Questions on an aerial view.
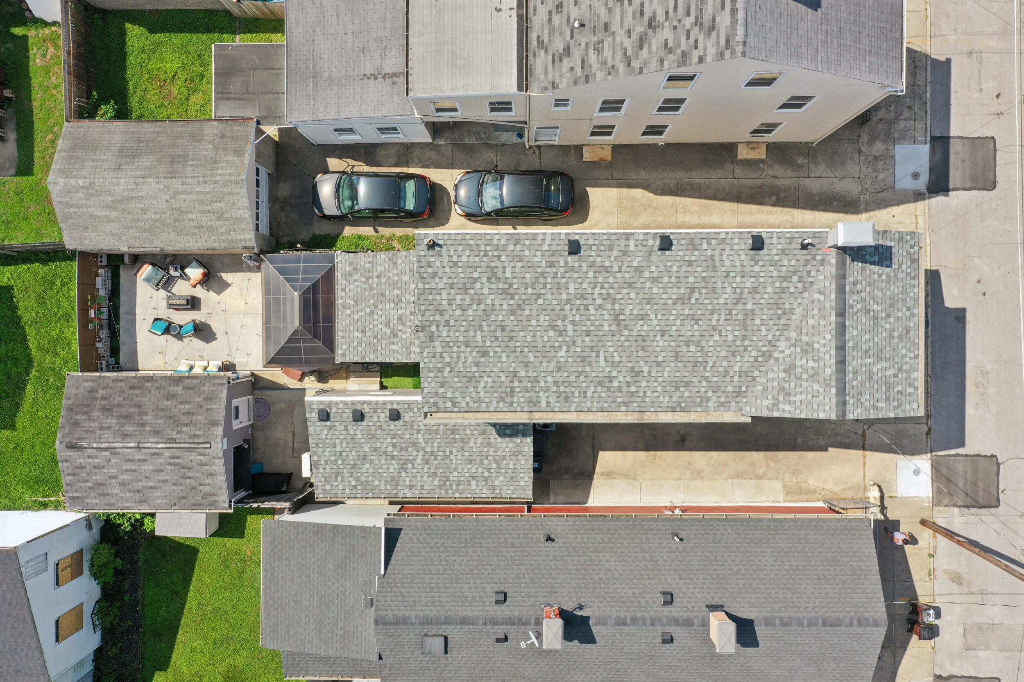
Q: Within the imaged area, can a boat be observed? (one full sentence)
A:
No, there's no boat here.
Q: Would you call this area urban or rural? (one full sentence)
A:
The land in this view is best described as urban.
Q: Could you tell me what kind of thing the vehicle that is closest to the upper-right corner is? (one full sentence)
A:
What you see as the vehicle that is closest to the upper-right corner is a car.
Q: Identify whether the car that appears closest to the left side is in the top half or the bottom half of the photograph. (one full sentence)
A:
The top half of the photo is where the car that appears closest to the left side is.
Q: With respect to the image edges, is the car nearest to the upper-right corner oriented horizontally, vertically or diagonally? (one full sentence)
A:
The car nearest to the upper-right corner is laid out horizontally.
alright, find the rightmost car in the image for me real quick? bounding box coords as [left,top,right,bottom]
[453,164,574,222]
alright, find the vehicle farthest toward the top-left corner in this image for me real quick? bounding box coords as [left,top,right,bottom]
[311,165,433,223]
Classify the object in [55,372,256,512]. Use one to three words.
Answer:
building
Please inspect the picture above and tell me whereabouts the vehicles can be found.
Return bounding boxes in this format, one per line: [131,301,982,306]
[453,164,574,222]
[311,165,433,223]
